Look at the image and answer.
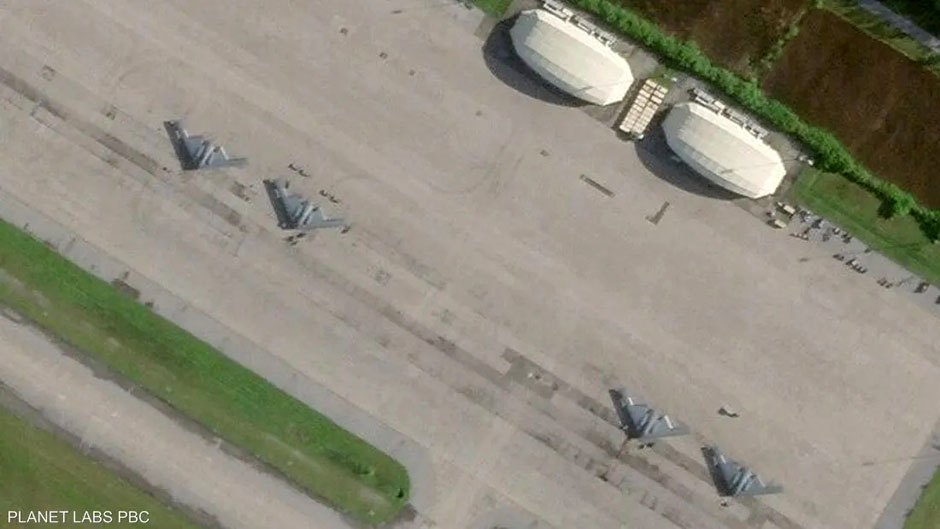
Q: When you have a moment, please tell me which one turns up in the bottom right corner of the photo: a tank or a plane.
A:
plane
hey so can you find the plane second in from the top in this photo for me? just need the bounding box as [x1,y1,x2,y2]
[271,182,344,229]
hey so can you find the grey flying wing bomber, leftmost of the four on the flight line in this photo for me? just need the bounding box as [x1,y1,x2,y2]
[173,121,247,168]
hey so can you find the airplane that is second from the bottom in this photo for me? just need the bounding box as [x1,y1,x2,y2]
[619,391,691,438]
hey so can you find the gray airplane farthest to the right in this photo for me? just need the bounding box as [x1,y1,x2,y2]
[711,449,783,496]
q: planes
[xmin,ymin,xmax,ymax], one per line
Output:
[173,121,247,168]
[711,449,783,496]
[619,391,691,438]
[271,182,344,229]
